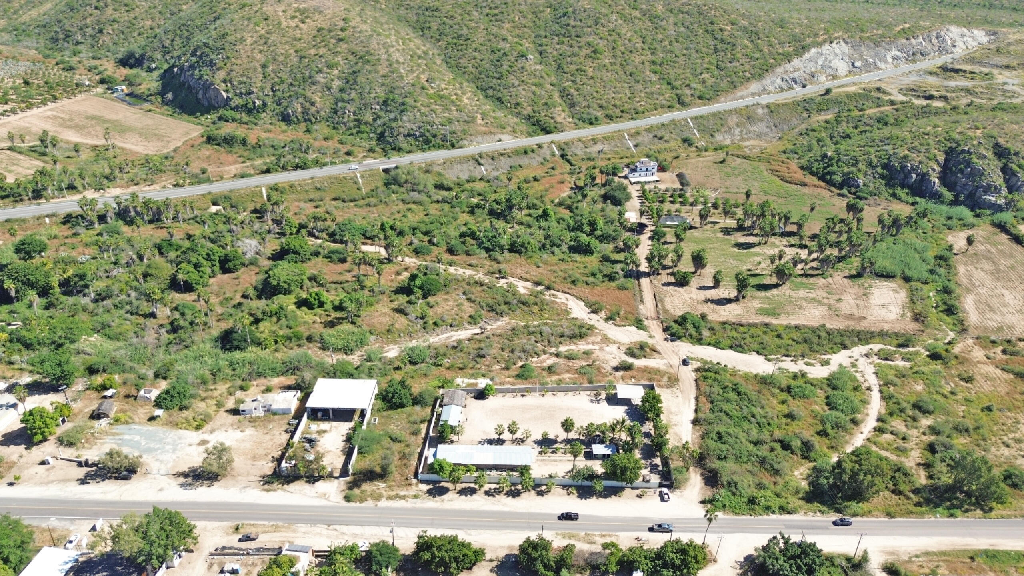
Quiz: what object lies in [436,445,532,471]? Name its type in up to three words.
shed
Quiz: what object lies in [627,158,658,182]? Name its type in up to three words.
house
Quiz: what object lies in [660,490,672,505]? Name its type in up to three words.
vehicle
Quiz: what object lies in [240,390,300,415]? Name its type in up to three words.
house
